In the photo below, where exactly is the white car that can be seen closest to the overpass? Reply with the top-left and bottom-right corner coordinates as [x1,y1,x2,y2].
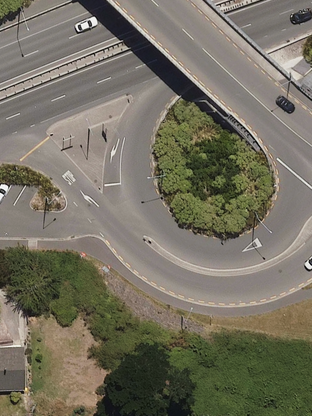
[74,18,98,34]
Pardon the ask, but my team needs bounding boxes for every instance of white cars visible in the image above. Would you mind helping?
[74,18,98,34]
[0,184,8,206]
[303,254,312,270]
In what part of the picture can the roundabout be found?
center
